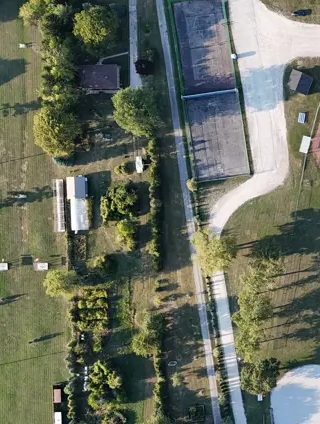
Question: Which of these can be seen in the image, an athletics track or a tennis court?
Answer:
tennis court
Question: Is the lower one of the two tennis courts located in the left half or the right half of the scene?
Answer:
right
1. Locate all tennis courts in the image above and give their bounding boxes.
[174,0,236,94]
[184,91,249,180]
